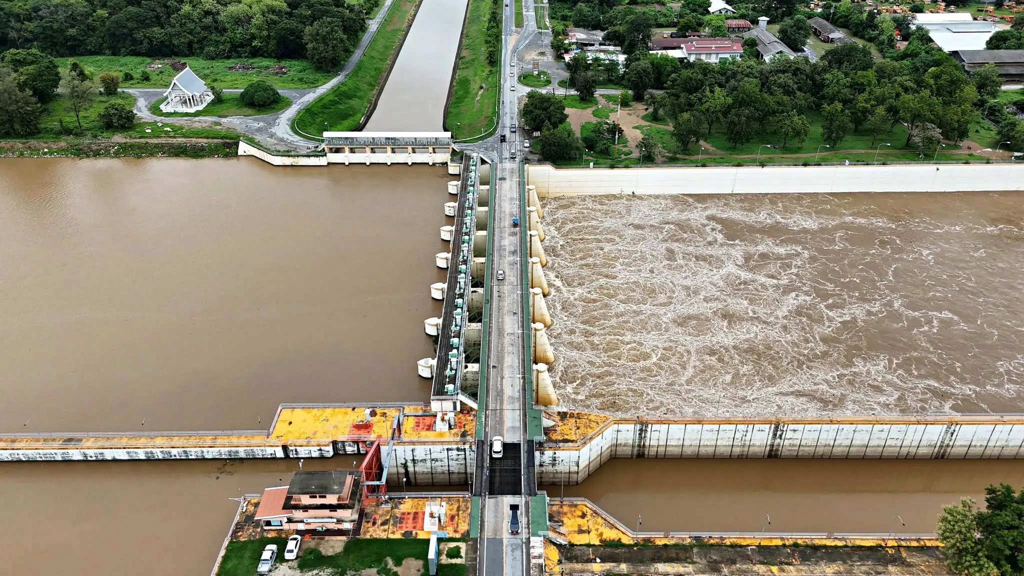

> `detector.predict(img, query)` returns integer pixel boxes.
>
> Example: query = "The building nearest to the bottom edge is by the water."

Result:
[253,471,364,541]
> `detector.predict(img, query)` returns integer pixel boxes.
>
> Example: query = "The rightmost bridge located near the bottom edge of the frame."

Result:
[458,490,549,576]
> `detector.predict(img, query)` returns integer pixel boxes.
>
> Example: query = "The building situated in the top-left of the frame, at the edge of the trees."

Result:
[159,63,213,116]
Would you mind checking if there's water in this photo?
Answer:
Yes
